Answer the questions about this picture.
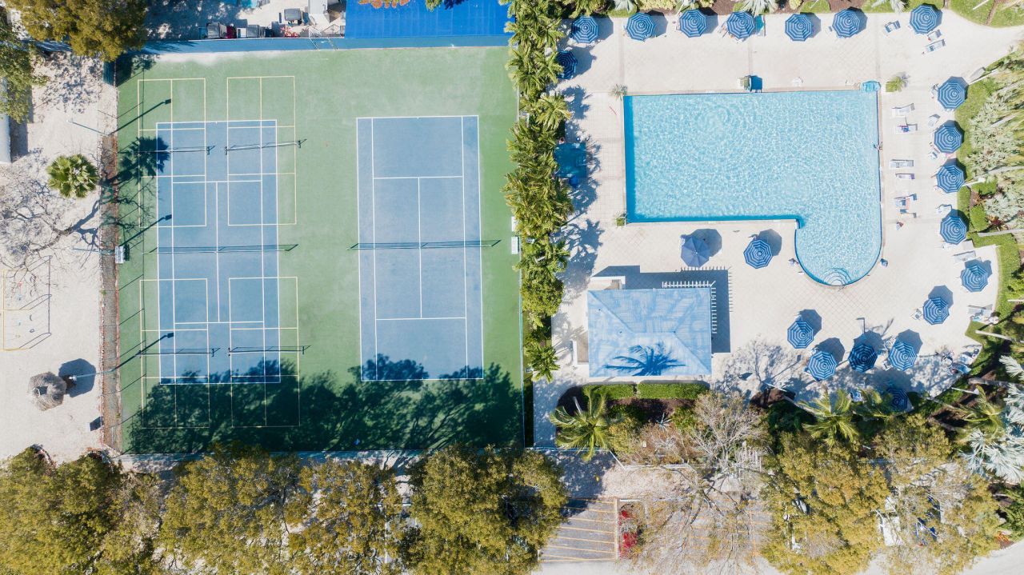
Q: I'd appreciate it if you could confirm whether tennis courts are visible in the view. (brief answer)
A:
Yes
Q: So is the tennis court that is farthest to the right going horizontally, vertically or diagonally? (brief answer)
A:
vertically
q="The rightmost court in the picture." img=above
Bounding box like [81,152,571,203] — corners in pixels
[357,116,483,381]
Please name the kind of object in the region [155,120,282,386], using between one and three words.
tennis court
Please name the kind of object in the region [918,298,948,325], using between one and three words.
umbrella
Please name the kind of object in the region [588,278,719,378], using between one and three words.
building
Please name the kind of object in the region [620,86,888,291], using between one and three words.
swimming pool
